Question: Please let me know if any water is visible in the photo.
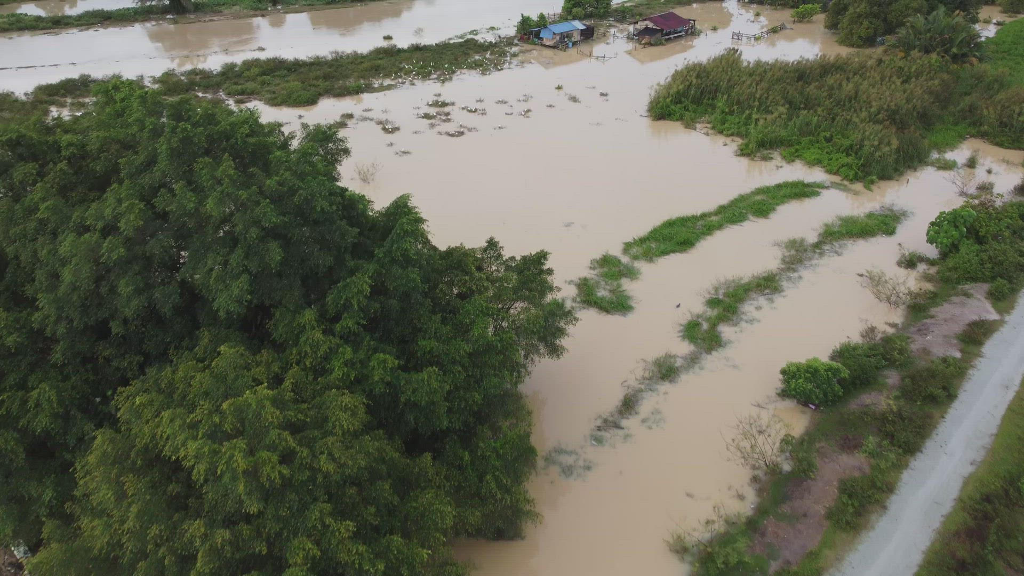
Yes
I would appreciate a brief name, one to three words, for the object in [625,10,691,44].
shed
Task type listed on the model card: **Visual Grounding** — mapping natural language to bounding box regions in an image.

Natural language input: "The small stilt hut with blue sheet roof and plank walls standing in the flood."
[516,20,595,48]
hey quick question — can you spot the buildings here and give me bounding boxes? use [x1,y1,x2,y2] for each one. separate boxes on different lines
[516,20,595,48]
[625,10,691,44]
